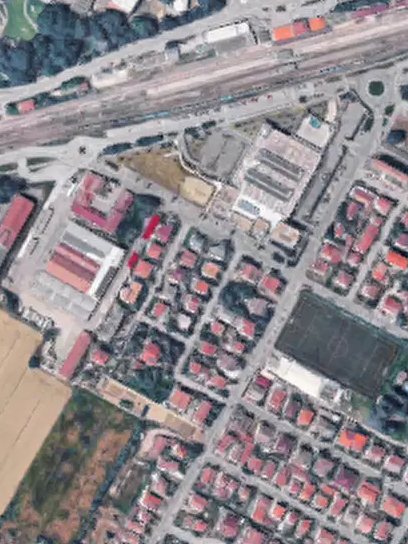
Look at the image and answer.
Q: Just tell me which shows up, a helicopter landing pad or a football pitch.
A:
football pitch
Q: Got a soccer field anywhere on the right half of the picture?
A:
Yes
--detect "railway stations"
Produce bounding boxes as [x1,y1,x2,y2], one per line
[269,17,333,47]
